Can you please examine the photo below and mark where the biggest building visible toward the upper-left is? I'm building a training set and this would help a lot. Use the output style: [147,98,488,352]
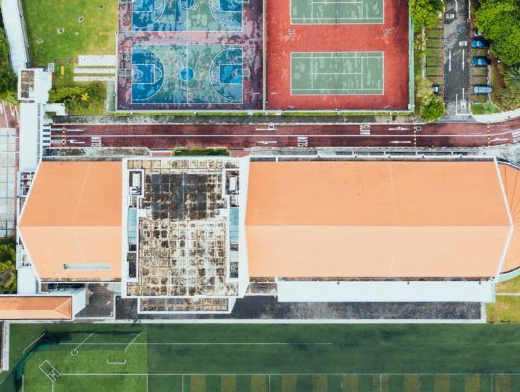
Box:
[18,70,62,102]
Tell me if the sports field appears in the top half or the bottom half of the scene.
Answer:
bottom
